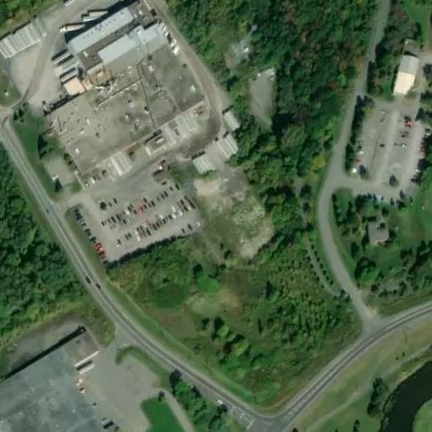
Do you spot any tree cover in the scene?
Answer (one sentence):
Yes, tree cover can be seen from above here.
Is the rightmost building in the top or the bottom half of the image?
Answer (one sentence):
The rightmost building is in the top half of the image.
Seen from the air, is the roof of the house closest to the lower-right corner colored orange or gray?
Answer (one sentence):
The roof of the house closest to the lower-right corner is gray.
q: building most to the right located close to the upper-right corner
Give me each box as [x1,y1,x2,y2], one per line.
[394,41,421,96]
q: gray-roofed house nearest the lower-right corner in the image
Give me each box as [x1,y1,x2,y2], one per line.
[368,225,388,246]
